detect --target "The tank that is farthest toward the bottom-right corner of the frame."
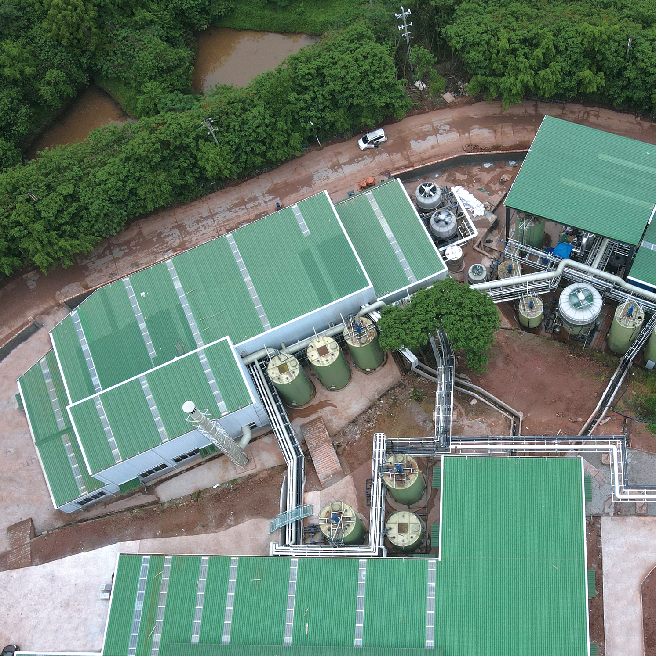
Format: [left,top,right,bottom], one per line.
[385,512,427,558]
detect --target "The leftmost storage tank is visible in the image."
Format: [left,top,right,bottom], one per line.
[265,354,314,405]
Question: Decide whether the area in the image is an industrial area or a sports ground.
industrial area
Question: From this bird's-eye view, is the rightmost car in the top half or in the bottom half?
top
